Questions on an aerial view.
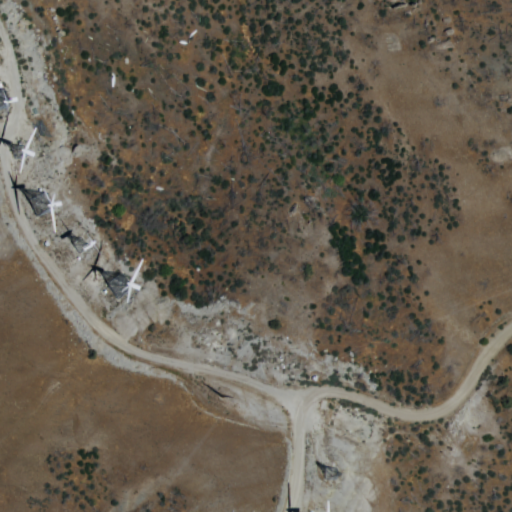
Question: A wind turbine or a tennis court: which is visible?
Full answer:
This aerial view contains a wind turbine.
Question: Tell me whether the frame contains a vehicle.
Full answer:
No, the picture doesn't show any vehicle.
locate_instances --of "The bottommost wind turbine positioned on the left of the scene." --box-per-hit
[117,260,142,301]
